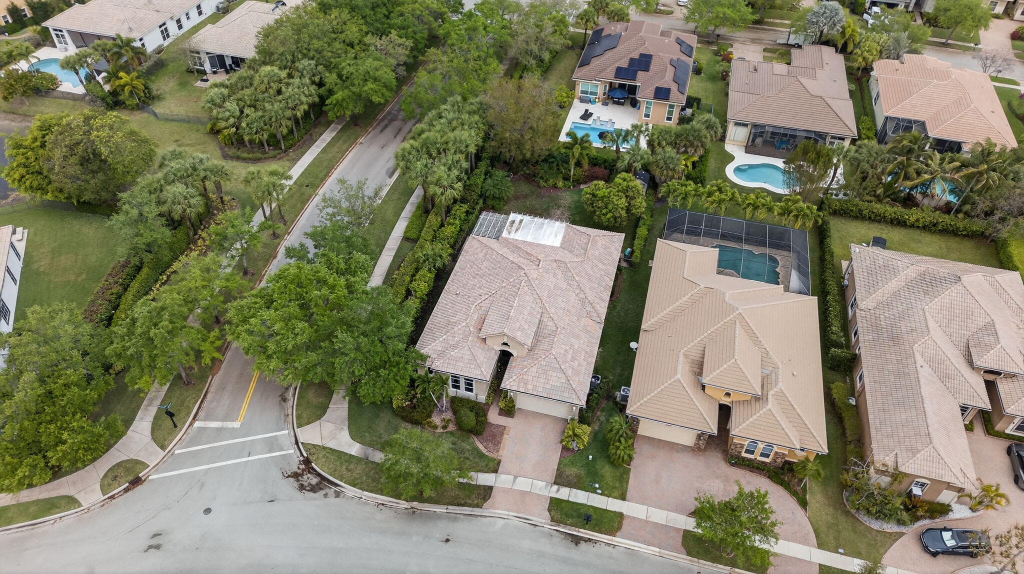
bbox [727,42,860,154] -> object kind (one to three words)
house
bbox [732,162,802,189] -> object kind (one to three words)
swimming pool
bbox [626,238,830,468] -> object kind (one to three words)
house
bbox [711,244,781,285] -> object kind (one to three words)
swimming pool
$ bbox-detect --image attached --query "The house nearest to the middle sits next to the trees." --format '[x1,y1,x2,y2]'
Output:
[417,222,626,421]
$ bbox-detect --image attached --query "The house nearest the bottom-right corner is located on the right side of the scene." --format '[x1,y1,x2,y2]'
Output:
[845,242,1024,507]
